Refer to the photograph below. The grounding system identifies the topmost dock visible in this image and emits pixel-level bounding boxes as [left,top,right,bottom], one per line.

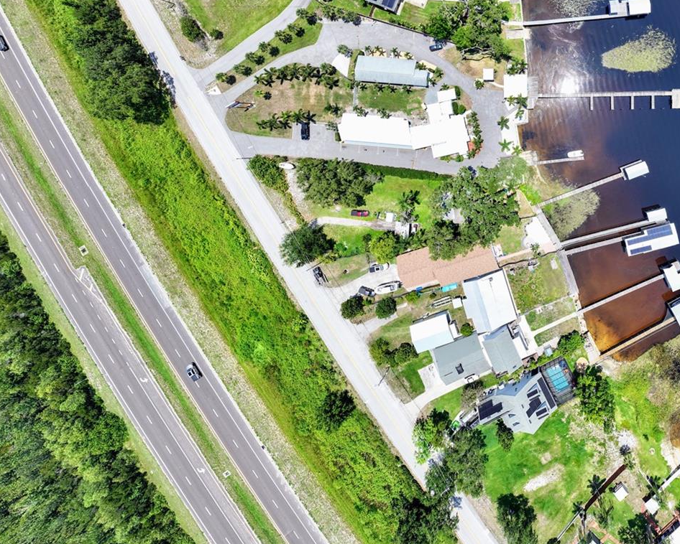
[505,0,628,24]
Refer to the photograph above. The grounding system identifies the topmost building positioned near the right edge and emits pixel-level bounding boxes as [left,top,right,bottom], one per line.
[627,0,650,16]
